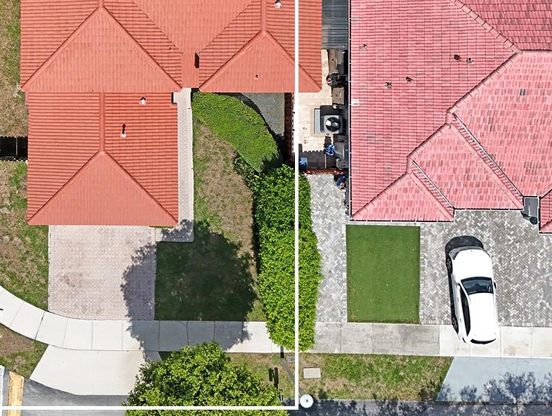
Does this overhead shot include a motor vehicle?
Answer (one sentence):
Yes, there's a motor vehicle here.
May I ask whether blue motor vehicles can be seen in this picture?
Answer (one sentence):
No, the frame has no blue motor vehicle in it.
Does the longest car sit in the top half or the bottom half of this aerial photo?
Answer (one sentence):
Seen from above, the longest car lies in the bottom half of the view.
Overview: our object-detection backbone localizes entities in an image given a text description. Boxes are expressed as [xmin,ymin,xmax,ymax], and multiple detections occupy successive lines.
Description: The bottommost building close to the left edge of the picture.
[25,92,189,228]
